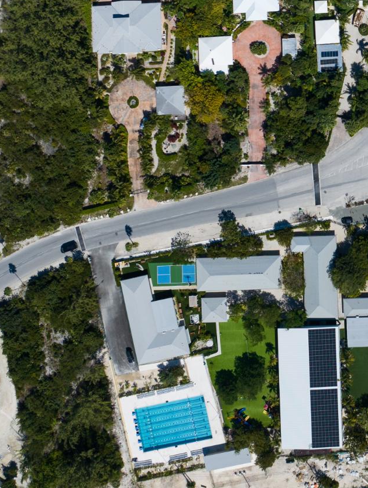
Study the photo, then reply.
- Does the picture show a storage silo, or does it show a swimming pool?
swimming pool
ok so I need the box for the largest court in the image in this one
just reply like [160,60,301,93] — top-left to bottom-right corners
[149,262,198,287]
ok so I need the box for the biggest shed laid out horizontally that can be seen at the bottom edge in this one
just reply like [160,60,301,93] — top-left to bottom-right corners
[203,446,254,471]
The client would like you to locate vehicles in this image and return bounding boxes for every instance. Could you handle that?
[62,241,77,251]
[341,217,353,223]
[126,347,134,361]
